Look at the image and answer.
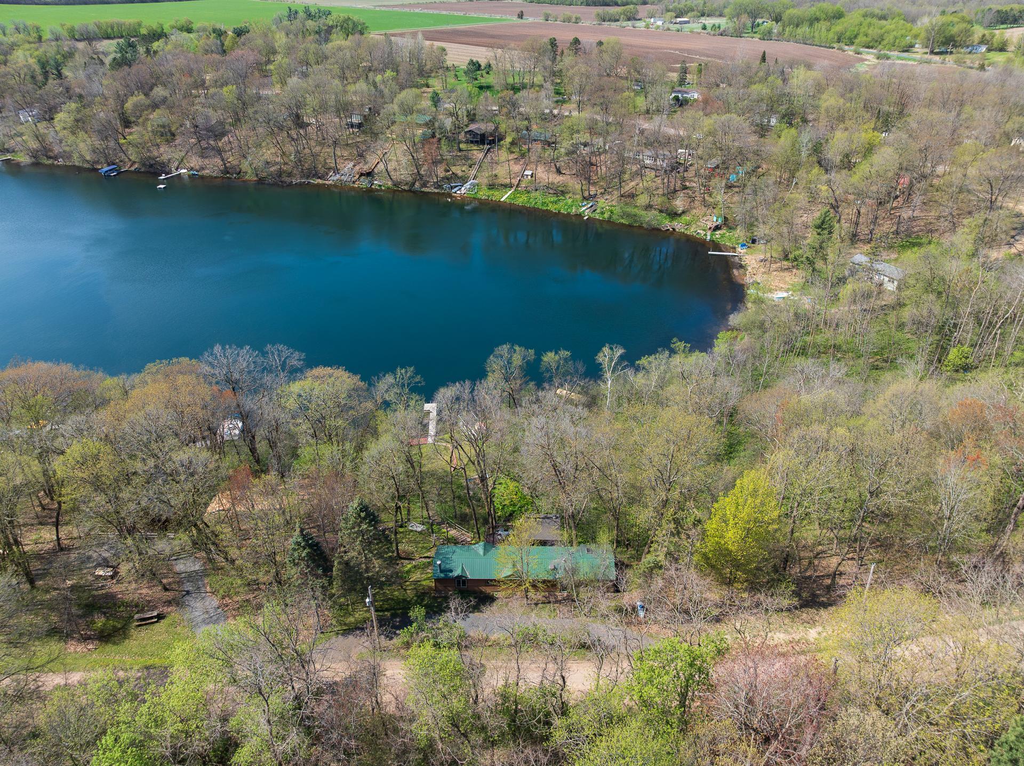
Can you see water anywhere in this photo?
Yes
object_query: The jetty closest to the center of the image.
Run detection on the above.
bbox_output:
[422,400,441,444]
